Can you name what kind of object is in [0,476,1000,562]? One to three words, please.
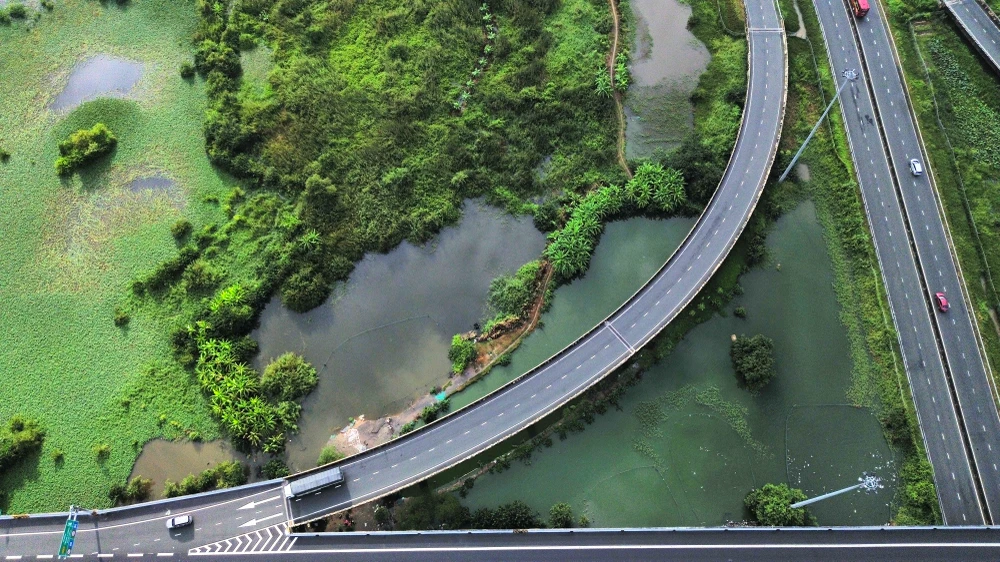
bridge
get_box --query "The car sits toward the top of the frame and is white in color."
[909,158,925,176]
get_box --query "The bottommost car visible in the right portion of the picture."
[934,291,952,313]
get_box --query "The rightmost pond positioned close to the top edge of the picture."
[626,0,715,165]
